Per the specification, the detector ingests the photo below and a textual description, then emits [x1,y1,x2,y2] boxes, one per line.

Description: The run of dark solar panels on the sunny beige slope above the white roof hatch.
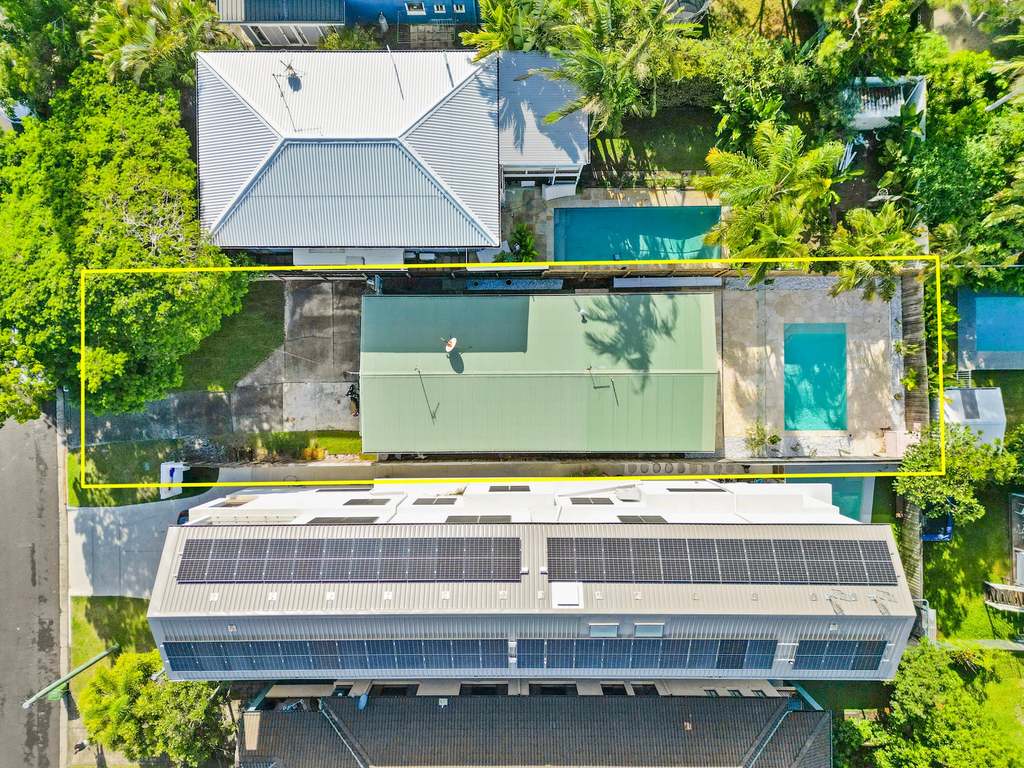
[547,538,902,581]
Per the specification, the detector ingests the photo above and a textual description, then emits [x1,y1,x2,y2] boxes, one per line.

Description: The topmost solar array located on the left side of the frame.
[171,538,521,581]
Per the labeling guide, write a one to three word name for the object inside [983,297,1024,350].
swimming pool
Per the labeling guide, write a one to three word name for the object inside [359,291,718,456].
building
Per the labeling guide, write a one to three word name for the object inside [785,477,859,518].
swimming pool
